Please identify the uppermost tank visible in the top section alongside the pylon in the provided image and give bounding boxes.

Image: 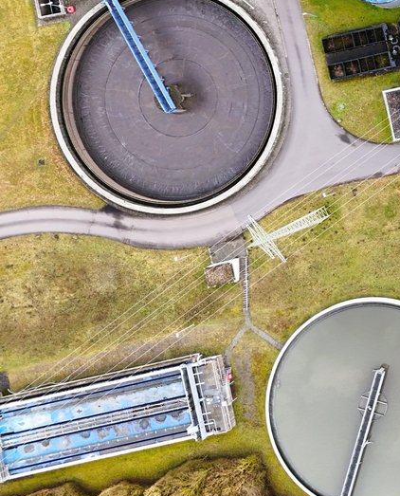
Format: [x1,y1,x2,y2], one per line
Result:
[51,0,283,214]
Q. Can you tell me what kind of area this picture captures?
industrial area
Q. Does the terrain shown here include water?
Yes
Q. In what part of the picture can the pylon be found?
right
